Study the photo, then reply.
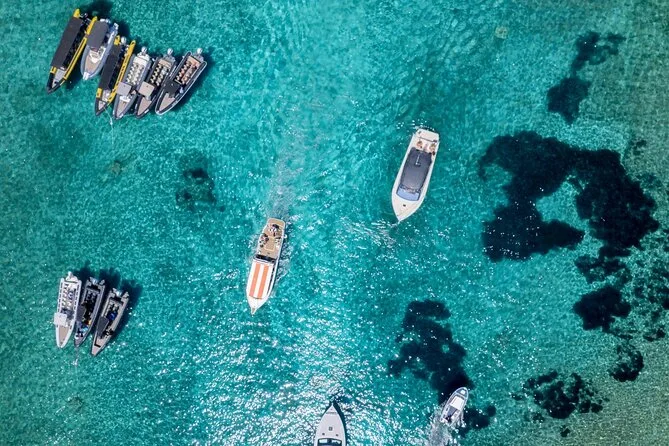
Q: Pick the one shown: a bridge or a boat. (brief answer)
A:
boat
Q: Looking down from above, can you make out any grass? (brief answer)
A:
No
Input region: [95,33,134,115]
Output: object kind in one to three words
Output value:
boat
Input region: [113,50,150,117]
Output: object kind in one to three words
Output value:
boat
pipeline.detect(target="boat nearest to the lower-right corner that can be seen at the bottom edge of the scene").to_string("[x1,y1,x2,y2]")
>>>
[440,387,468,426]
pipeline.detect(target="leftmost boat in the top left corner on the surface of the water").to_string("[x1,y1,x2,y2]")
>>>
[48,8,96,92]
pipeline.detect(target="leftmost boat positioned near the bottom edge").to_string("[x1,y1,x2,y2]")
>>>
[315,402,348,446]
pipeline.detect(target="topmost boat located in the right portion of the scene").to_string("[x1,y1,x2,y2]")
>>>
[393,128,438,221]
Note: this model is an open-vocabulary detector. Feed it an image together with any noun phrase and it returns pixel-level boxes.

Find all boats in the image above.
[54,272,83,347]
[48,8,96,92]
[113,50,150,117]
[393,128,438,221]
[92,285,131,355]
[83,15,118,80]
[156,51,206,114]
[247,216,286,315]
[75,275,106,347]
[315,402,348,446]
[440,387,468,426]
[95,33,134,115]
[137,52,174,117]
